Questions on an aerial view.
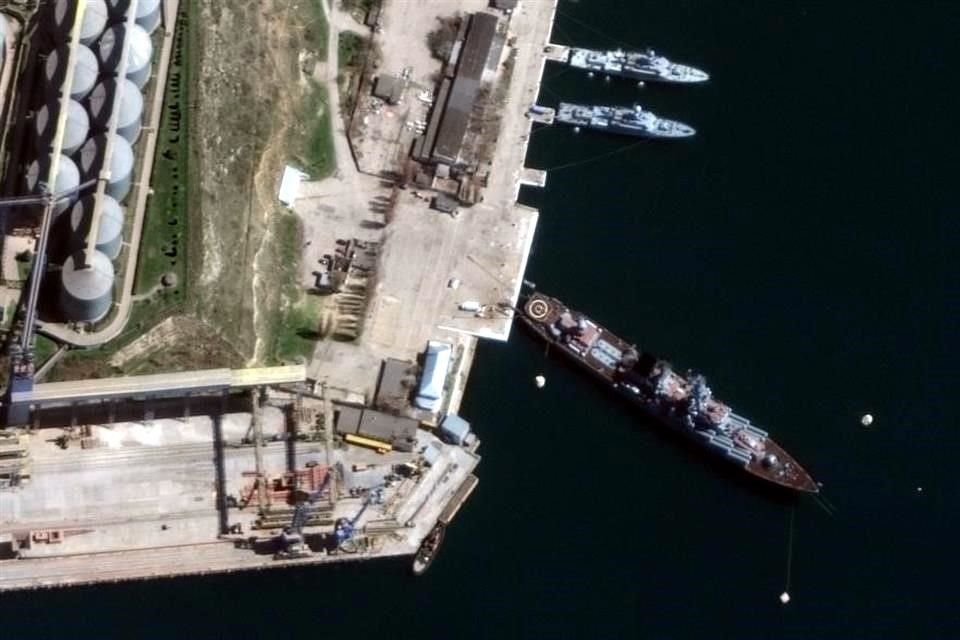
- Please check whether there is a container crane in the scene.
Yes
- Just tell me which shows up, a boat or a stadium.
boat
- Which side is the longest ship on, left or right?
right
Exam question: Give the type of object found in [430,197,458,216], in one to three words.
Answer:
shed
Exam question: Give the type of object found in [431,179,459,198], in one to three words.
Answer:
building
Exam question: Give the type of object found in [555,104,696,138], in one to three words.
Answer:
ship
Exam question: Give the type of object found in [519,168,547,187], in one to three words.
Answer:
pier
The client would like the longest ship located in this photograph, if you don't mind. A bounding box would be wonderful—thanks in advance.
[519,292,818,491]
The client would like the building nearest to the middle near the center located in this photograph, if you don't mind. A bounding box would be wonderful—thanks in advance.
[416,341,452,402]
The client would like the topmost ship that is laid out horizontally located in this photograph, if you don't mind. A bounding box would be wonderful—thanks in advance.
[568,50,709,82]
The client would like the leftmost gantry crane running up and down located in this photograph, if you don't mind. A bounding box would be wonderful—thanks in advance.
[248,390,278,537]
